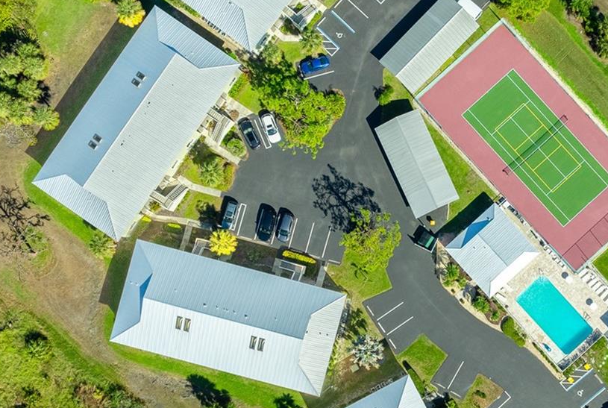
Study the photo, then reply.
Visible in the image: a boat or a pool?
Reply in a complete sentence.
There is a pool in the scene.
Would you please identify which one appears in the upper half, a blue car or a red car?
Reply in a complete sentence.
The one visible in the upper half is a blue car.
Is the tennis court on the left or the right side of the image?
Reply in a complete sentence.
You can find the tennis court on the right side of the picture.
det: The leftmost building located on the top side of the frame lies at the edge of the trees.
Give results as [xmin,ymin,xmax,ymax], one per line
[31,7,243,242]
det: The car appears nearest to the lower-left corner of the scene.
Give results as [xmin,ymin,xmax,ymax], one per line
[221,201,239,230]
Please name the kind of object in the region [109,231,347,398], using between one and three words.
building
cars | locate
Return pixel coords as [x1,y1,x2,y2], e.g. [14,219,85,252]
[221,201,239,230]
[278,212,295,242]
[261,113,282,145]
[240,120,262,150]
[257,206,275,241]
[301,56,331,73]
